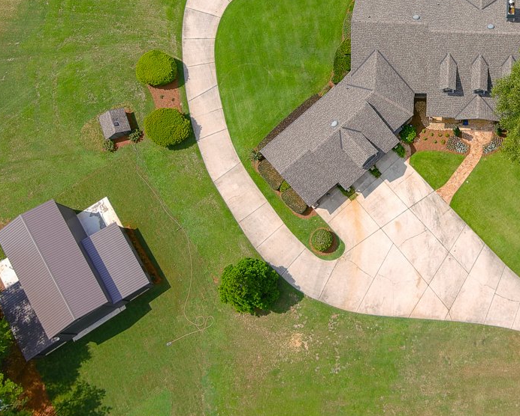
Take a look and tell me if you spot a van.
No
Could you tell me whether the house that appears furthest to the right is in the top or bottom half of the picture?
top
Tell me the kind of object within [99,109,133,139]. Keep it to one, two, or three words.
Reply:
shed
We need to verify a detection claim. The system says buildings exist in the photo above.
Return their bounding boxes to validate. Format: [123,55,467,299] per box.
[0,202,153,361]
[99,109,133,139]
[259,0,520,204]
